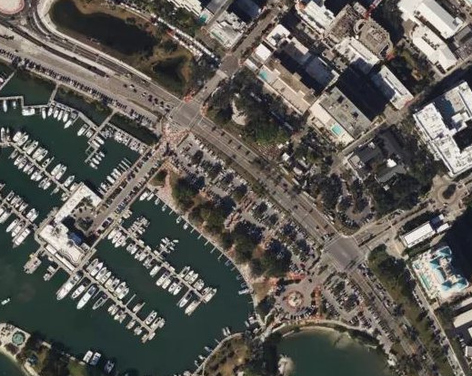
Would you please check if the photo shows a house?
Yes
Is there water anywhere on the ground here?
Yes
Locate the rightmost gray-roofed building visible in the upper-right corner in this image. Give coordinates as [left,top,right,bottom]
[454,24,472,61]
